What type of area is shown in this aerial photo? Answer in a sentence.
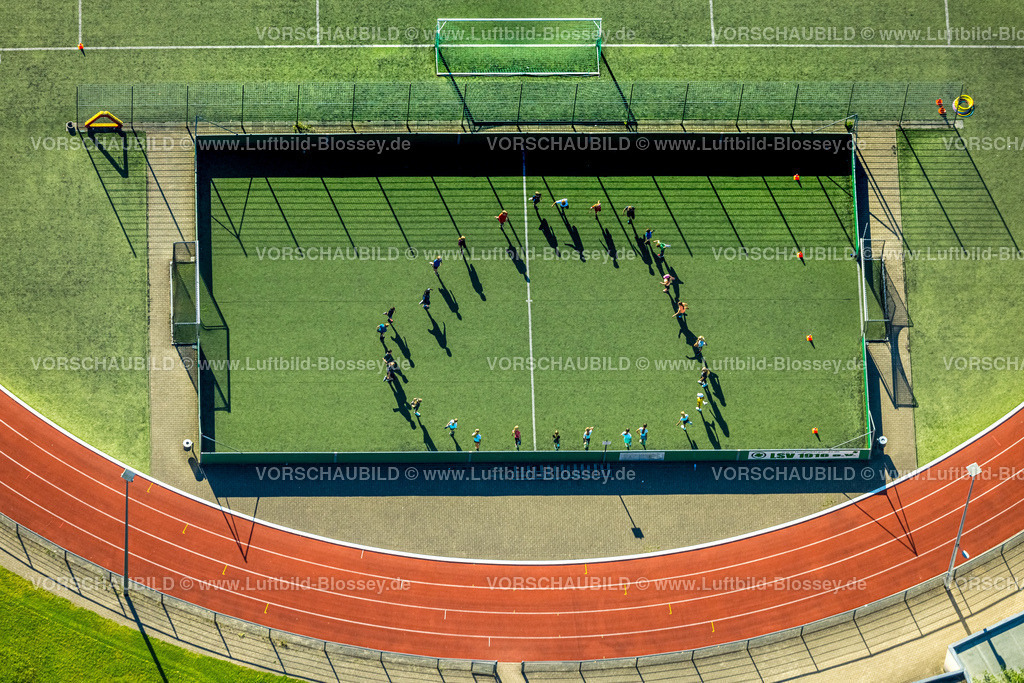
The area seen from above is a sports ground.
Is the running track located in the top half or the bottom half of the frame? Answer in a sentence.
You can find the running track in the bottom half.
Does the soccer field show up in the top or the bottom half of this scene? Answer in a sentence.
You can find the soccer field in the top half.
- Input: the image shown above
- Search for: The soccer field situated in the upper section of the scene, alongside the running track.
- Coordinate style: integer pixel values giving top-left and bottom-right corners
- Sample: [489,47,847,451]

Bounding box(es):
[0,0,1024,475]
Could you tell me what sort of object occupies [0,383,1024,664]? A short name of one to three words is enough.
running track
